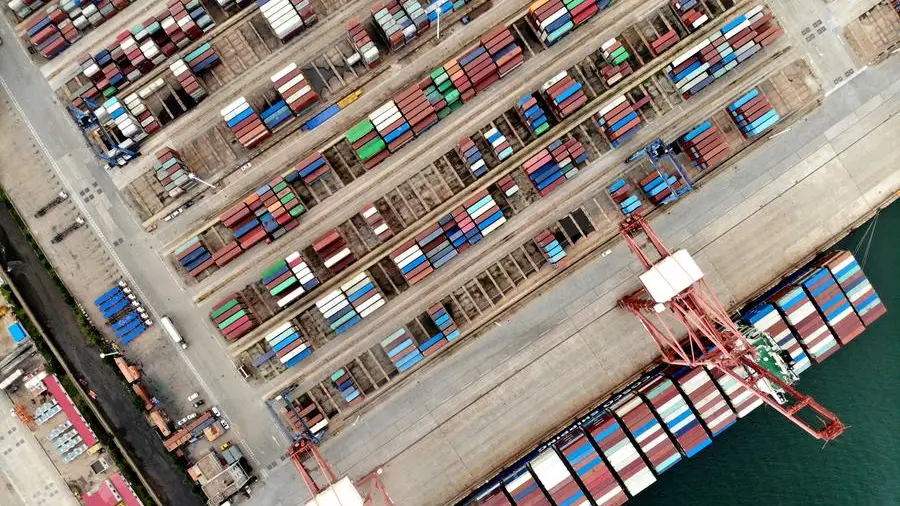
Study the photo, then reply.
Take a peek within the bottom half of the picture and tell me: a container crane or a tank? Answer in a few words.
container crane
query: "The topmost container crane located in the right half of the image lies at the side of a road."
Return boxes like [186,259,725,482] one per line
[626,141,694,210]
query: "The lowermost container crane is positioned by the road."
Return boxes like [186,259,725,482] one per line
[286,436,397,506]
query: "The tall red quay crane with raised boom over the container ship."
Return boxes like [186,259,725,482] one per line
[613,213,856,446]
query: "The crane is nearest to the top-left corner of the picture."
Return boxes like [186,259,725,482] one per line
[68,98,142,167]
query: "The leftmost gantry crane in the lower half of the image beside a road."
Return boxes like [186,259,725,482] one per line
[268,382,334,445]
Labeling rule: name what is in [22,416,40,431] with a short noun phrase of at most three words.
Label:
work vehicle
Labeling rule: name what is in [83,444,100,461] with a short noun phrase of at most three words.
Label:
vehicle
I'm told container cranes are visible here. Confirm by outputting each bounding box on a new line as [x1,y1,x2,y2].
[626,141,694,210]
[286,436,397,506]
[268,382,334,445]
[613,213,856,446]
[68,98,142,167]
